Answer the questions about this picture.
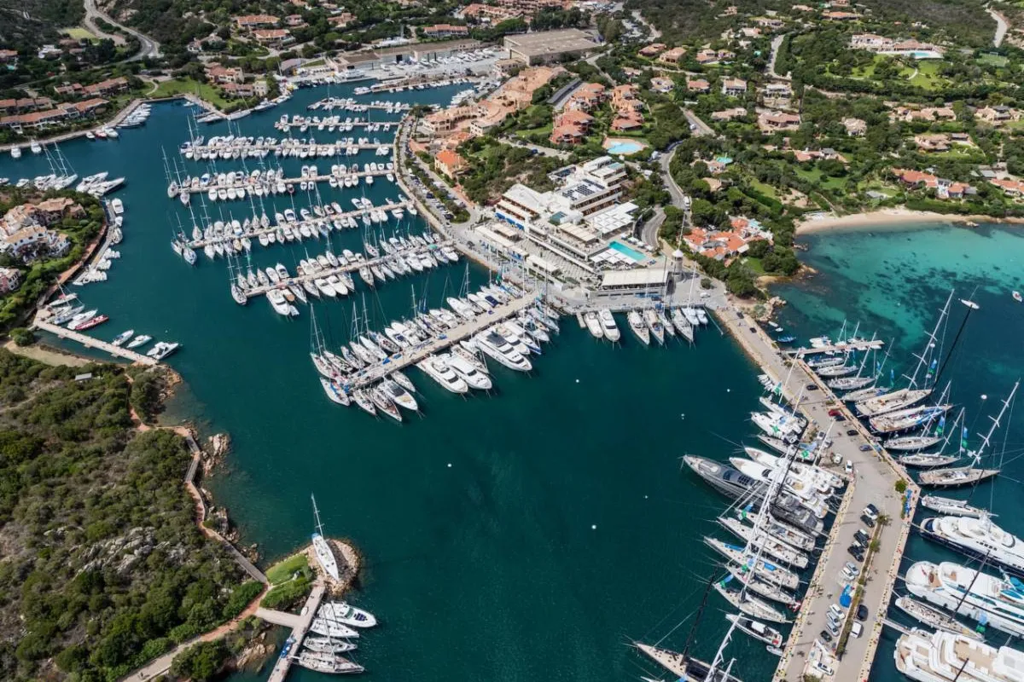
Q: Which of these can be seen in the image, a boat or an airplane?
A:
boat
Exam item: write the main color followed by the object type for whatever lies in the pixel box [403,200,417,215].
white boat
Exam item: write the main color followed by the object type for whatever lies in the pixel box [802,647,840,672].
white boat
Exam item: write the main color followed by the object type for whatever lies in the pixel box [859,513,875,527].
black car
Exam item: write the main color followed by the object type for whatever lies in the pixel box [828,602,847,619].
white car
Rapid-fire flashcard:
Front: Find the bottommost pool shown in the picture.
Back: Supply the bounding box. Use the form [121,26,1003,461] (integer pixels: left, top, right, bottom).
[607,239,649,263]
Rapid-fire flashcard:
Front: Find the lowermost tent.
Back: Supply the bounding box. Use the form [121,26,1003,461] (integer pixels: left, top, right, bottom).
[838,574,860,603]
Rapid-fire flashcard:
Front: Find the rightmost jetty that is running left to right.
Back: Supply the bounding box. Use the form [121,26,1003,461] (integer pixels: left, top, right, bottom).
[781,342,884,354]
